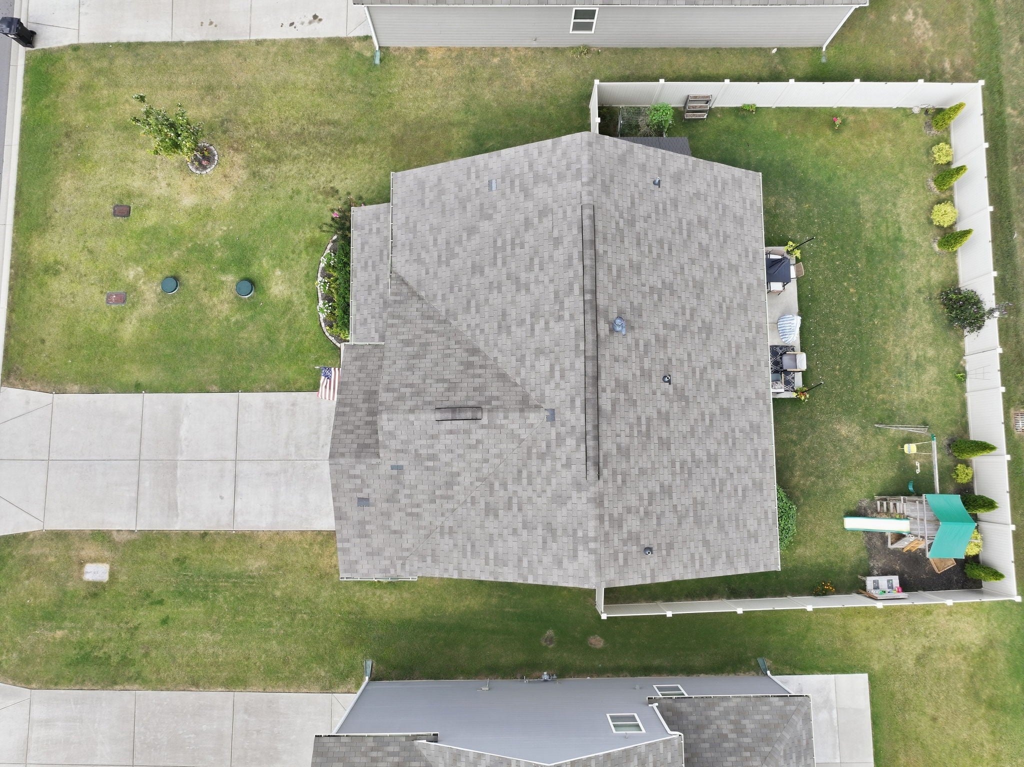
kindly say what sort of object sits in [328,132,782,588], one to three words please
house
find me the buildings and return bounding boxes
[353,0,869,52]
[311,669,816,767]
[328,132,782,588]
